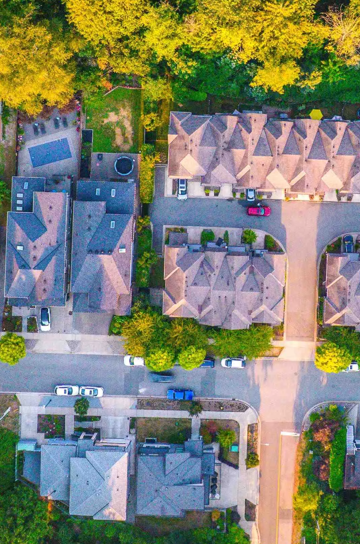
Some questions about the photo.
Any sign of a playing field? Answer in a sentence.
No, no playing field is visible in the view.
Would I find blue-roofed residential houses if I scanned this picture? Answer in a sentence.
Yes, a blue-roofed residential house is visible in the scene.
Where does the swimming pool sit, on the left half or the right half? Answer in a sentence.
The swimming pool appears in the left half of the scene.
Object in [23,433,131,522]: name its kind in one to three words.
house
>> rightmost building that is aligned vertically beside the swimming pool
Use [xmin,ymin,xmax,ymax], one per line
[70,180,139,316]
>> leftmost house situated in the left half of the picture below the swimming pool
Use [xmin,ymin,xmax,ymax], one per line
[4,176,73,308]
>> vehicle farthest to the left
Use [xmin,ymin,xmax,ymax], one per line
[39,307,51,330]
